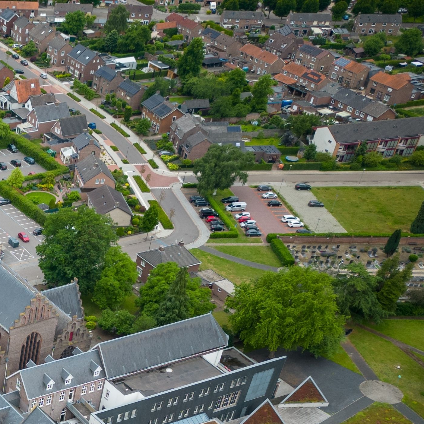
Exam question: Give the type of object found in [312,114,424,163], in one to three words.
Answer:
building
